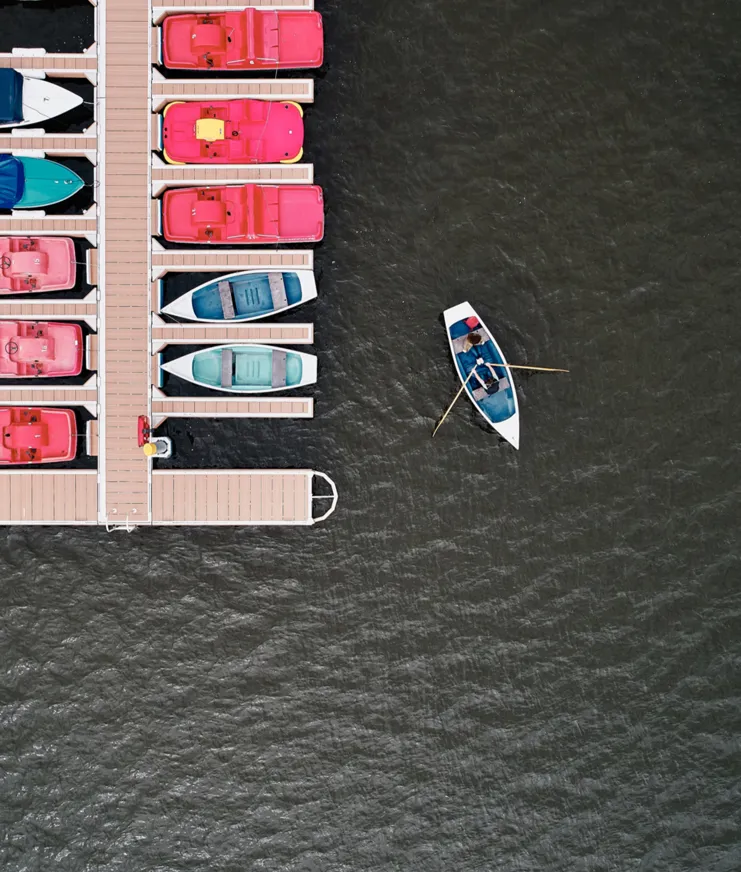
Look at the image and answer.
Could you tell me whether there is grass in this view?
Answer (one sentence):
No, the scene doesn't show any grass.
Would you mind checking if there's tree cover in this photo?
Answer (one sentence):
No, there is no tree cover in the image.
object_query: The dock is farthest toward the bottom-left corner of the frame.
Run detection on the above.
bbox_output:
[0,469,98,525]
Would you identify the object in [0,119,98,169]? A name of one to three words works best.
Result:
pier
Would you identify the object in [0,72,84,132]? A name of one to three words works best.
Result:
boat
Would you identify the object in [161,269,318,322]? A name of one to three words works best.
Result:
boat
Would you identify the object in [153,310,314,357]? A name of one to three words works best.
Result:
pier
